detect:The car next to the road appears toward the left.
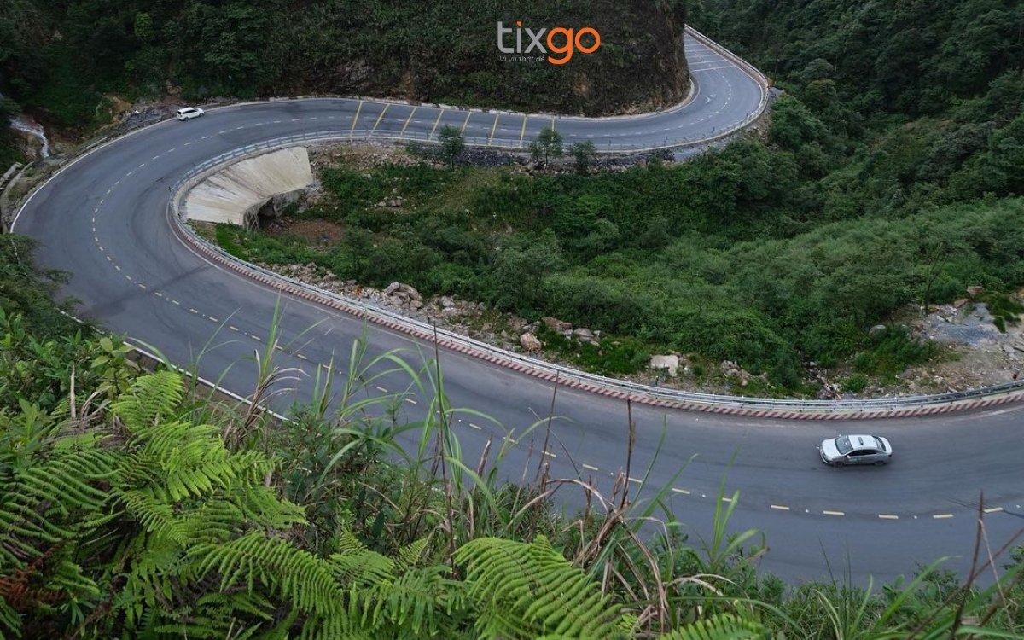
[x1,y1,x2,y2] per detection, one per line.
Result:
[172,106,205,121]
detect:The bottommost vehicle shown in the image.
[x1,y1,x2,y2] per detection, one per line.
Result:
[818,434,894,467]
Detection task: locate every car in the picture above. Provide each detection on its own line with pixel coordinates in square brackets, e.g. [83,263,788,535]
[818,434,894,467]
[172,106,205,121]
